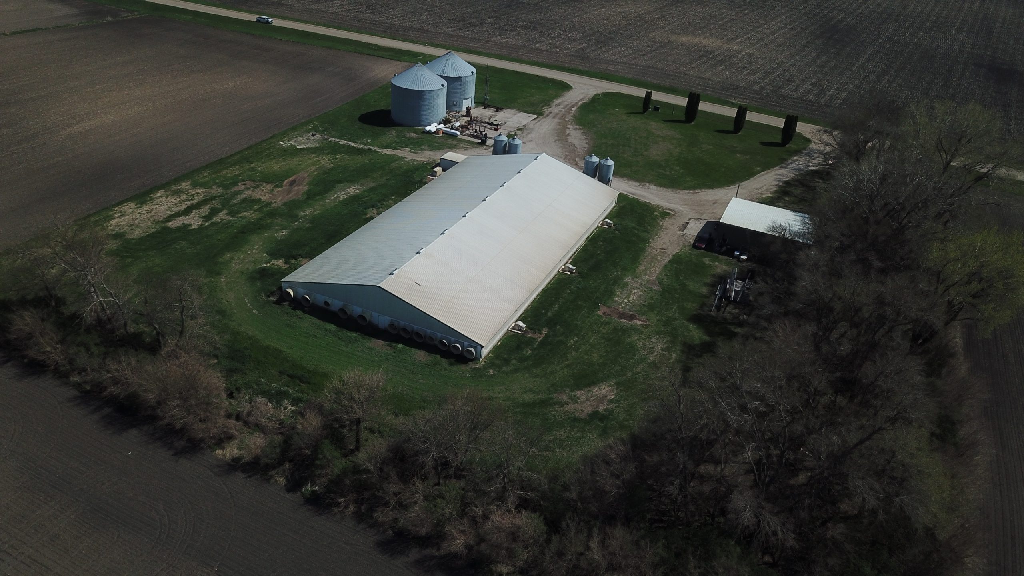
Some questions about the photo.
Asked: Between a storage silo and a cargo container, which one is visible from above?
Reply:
storage silo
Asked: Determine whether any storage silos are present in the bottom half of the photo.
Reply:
No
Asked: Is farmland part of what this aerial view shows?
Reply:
Yes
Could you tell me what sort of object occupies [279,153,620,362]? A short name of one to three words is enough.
barn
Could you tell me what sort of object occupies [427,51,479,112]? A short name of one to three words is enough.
silo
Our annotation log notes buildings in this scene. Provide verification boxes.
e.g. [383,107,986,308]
[279,153,620,362]
[716,196,819,264]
